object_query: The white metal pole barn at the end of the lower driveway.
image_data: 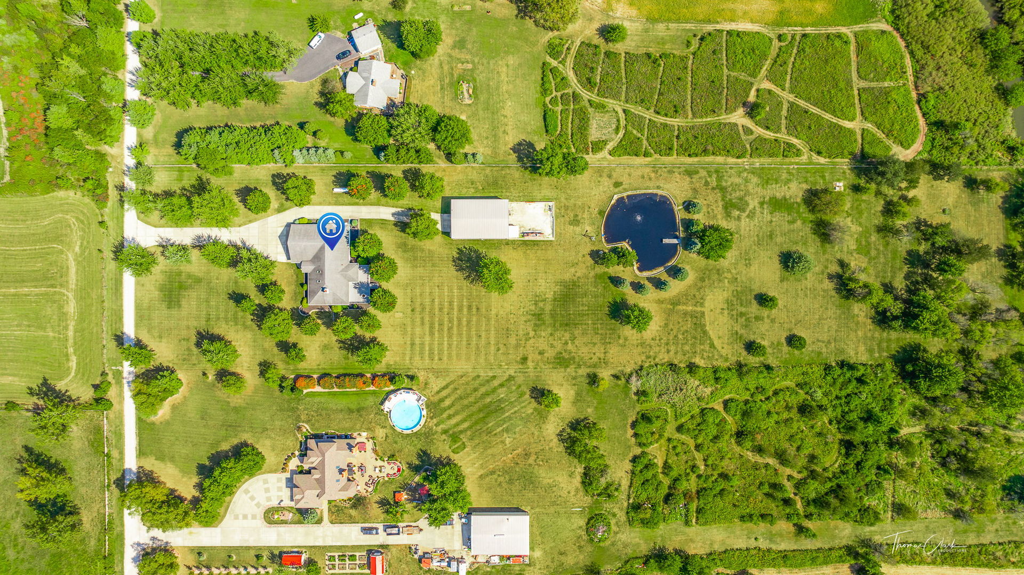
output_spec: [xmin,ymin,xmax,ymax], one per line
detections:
[471,512,529,555]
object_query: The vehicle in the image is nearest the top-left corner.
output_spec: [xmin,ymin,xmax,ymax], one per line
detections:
[309,32,324,48]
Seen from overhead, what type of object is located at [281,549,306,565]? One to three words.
barn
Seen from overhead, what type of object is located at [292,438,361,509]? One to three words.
house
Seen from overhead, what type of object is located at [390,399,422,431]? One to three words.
swimming pool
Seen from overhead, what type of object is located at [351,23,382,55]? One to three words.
building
